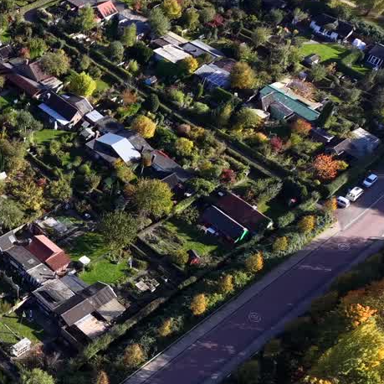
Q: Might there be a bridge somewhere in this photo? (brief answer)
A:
No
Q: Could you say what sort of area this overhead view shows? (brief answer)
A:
residential area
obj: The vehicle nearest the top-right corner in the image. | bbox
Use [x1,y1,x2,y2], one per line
[361,174,379,187]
